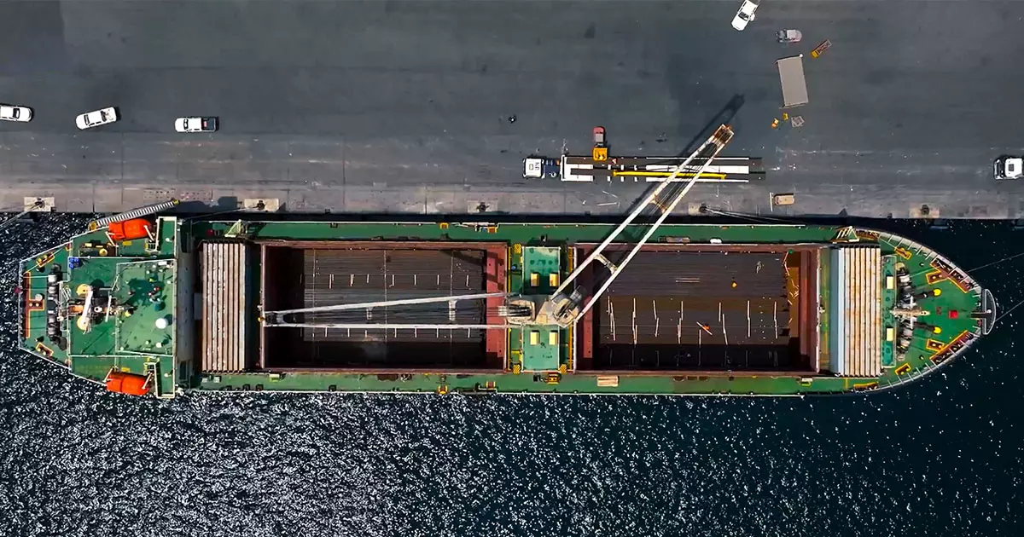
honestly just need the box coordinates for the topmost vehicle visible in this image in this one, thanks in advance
[730,0,760,30]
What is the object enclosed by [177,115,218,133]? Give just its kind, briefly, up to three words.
vehicle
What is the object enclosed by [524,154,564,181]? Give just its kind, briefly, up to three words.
truck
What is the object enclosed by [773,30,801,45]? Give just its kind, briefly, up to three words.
work vehicle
